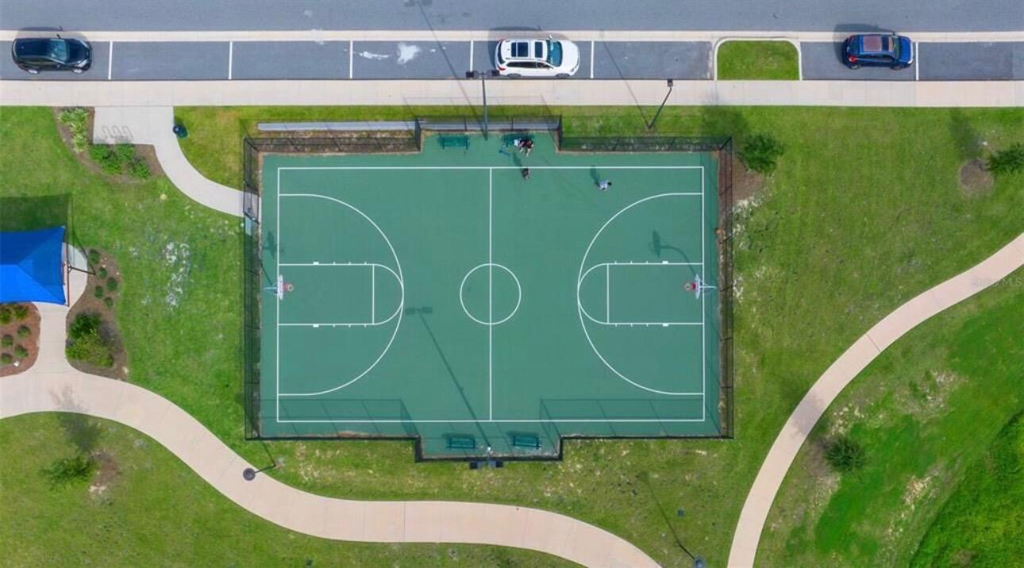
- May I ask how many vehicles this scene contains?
three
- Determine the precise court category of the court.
basketball court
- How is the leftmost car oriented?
from left to right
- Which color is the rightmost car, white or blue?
blue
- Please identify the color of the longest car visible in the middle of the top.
white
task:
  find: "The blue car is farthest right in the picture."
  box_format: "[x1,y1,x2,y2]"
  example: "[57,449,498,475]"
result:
[842,31,916,70]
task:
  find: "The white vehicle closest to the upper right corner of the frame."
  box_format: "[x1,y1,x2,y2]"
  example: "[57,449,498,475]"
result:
[494,35,581,77]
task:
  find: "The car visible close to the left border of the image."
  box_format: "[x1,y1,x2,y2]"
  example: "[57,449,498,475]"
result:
[10,34,91,73]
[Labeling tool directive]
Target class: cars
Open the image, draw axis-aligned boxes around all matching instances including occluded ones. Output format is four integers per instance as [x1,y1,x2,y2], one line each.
[842,31,916,70]
[494,35,581,77]
[10,34,91,73]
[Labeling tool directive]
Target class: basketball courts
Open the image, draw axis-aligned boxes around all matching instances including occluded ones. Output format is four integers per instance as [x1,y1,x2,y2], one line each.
[259,131,720,457]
